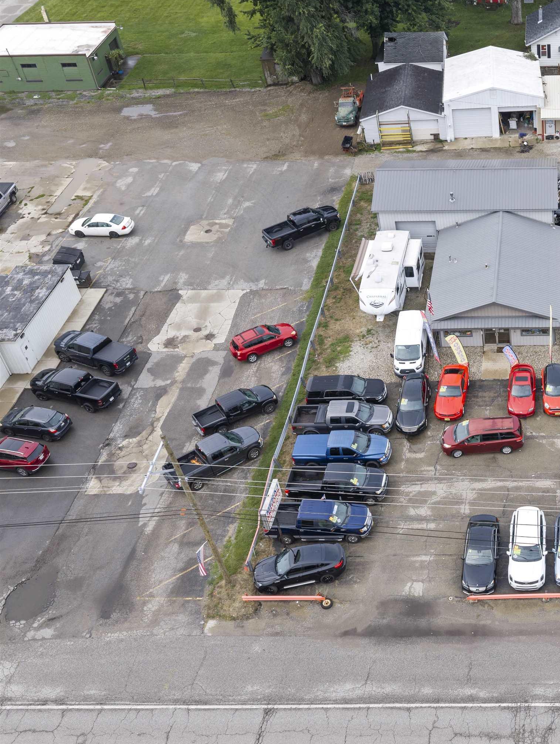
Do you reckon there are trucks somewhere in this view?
Yes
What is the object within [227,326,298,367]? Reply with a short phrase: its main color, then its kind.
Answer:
red car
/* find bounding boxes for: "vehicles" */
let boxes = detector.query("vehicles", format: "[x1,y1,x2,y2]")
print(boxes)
[333,73,365,126]
[395,378,431,438]
[253,547,348,595]
[0,406,78,447]
[29,369,126,416]
[302,377,390,407]
[507,511,547,593]
[390,305,429,384]
[261,500,375,547]
[227,326,298,367]
[259,210,342,253]
[506,367,537,419]
[0,437,53,481]
[435,367,469,424]
[292,400,393,437]
[51,334,143,378]
[157,427,267,498]
[540,364,560,417]
[69,215,136,241]
[288,430,393,470]
[0,187,28,215]
[441,416,525,459]
[189,387,281,441]
[459,520,499,601]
